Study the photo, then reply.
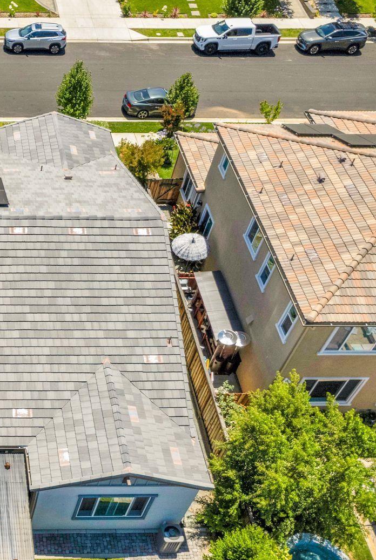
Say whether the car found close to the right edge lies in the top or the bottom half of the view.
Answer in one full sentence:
You can find the car found close to the right edge in the top half.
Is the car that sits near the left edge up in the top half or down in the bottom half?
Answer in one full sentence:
Seen from above, the car that sits near the left edge lies in the top half of the view.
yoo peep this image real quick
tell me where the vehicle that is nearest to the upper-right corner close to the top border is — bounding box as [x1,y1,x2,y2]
[293,16,373,53]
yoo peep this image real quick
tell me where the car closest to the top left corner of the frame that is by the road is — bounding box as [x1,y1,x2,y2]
[1,17,70,52]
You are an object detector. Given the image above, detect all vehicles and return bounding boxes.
[293,16,373,53]
[188,14,285,54]
[118,83,202,118]
[1,17,70,52]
